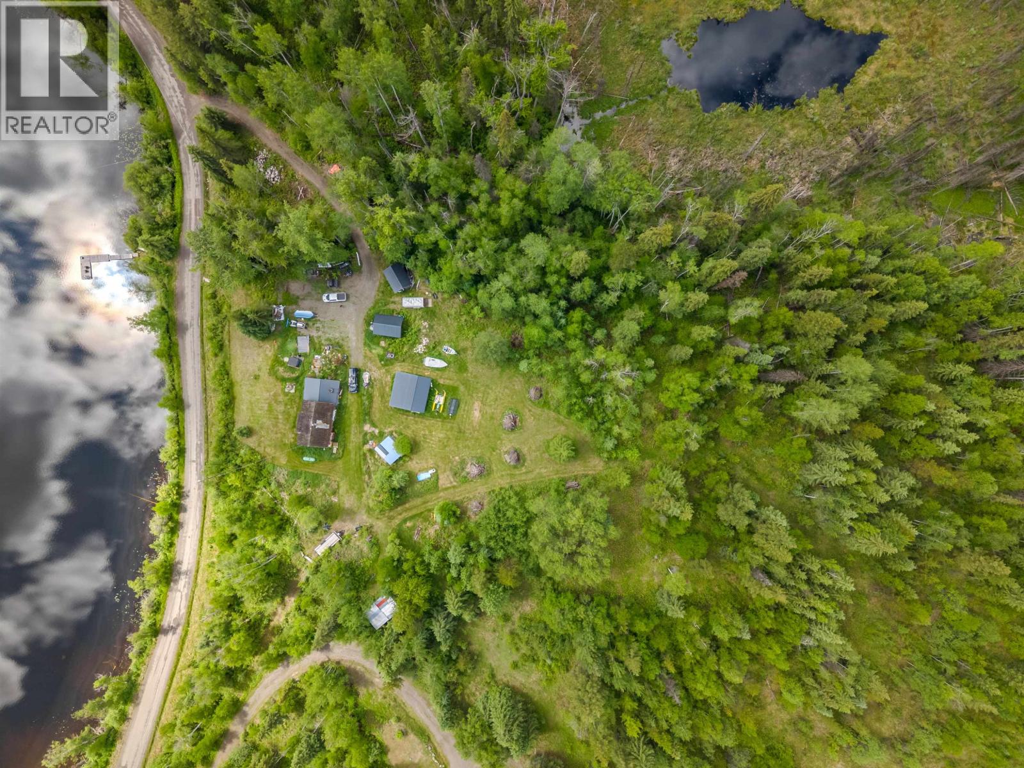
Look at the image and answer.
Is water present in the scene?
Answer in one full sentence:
Yes, there is water in the image.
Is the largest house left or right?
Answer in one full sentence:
The largest house sits on the left side.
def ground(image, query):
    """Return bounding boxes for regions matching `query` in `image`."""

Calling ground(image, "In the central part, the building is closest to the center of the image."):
[389,371,432,413]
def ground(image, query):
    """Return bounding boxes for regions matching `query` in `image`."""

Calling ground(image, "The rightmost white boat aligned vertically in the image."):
[433,390,445,412]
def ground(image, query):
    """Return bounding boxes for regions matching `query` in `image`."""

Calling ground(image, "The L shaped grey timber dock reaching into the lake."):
[79,253,136,280]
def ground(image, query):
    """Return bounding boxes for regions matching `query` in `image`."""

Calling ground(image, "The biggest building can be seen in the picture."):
[297,378,342,453]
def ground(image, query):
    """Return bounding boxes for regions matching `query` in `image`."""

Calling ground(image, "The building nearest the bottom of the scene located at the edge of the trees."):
[366,595,397,628]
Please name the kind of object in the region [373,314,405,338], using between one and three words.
shed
